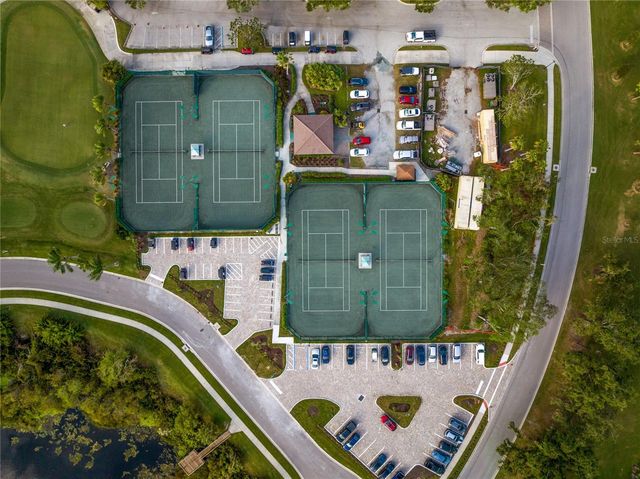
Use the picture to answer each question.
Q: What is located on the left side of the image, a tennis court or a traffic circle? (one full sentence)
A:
The one visible on the left side of the image is a tennis court.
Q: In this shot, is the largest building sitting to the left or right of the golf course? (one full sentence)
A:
Relative to the golf course, the largest building lies to the right.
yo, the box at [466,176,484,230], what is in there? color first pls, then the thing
white trailer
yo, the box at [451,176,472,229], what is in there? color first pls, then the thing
white trailer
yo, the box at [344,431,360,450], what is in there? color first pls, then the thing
blue car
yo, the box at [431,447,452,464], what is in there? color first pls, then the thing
blue car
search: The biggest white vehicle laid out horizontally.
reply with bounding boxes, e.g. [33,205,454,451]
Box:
[406,29,436,43]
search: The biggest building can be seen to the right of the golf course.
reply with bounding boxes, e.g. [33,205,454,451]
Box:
[291,113,333,154]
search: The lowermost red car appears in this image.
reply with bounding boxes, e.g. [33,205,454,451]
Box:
[380,413,398,431]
